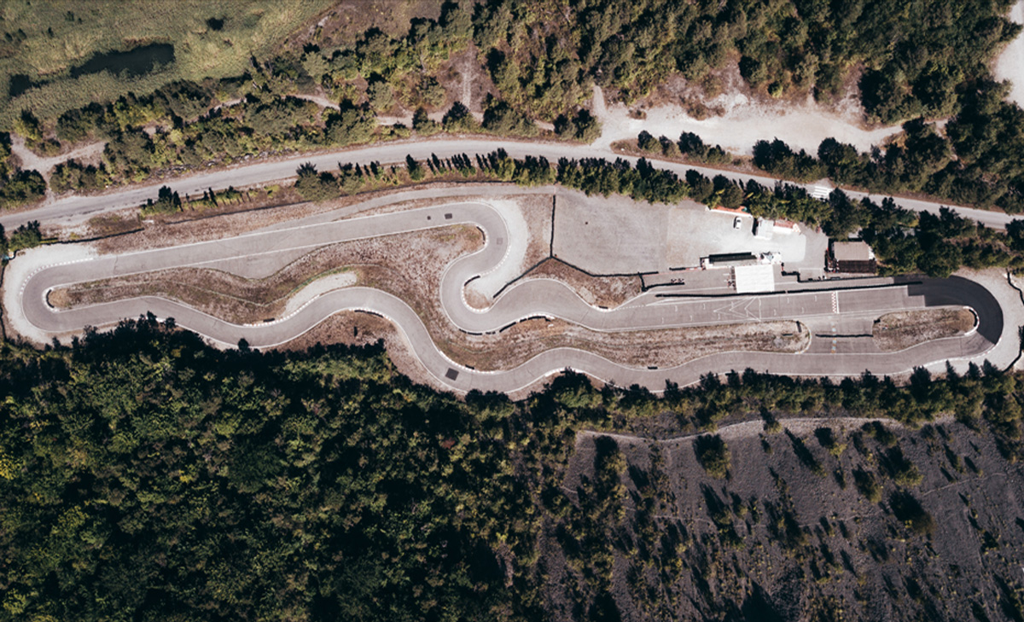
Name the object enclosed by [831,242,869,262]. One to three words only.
building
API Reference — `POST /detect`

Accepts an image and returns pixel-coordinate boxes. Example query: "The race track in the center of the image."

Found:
[21,202,1003,394]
